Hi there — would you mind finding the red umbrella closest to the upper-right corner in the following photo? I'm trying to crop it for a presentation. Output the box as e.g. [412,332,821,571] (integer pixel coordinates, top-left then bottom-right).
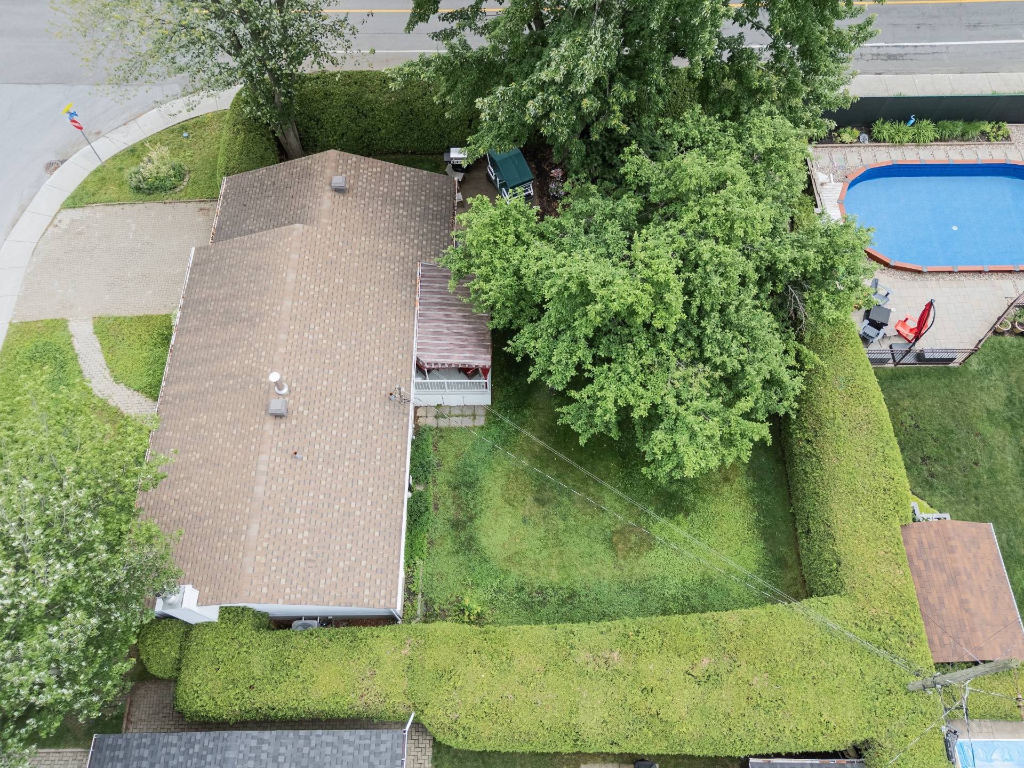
[895,300,935,361]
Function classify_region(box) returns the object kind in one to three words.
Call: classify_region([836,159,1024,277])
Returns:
swimming pool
